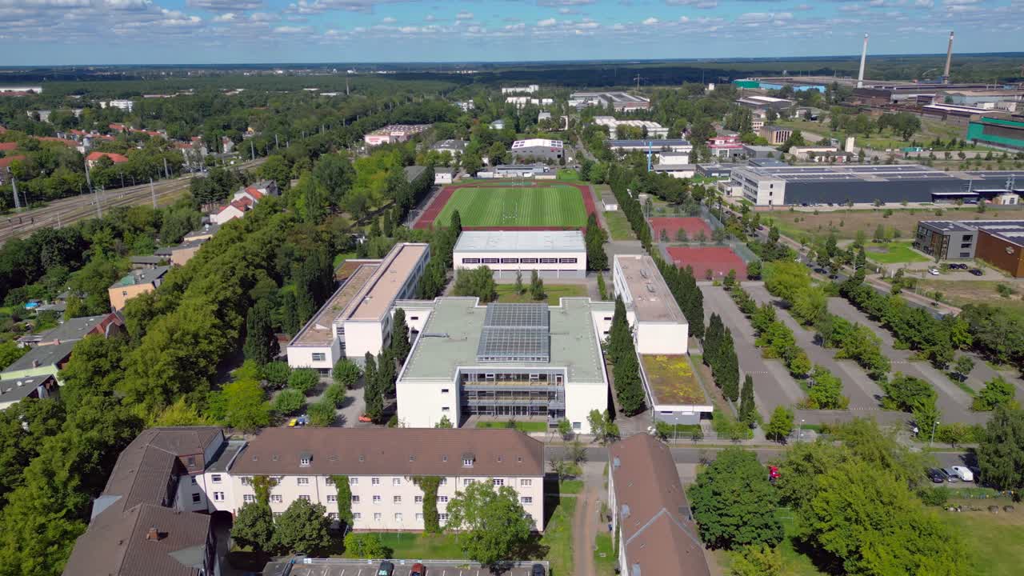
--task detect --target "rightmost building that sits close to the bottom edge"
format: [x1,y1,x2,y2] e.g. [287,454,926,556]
[606,433,714,576]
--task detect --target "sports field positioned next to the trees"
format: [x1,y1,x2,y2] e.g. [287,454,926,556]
[405,180,614,233]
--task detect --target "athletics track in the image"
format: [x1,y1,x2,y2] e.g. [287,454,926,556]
[405,180,614,233]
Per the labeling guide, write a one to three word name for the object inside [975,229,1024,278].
building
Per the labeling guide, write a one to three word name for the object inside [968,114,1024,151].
building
